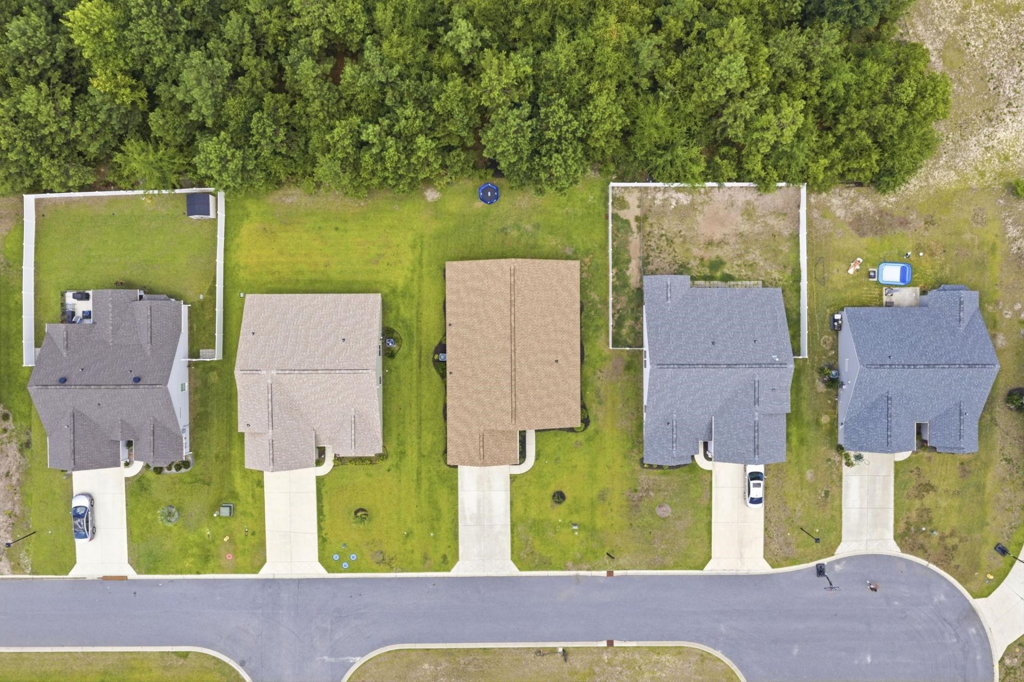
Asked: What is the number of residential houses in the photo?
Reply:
5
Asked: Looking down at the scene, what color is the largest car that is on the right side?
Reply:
white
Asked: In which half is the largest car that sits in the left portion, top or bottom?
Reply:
bottom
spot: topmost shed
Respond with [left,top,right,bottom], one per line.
[186,192,217,217]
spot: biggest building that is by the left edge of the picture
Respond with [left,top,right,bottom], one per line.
[28,290,199,472]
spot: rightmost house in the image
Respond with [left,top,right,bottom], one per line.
[833,285,1000,455]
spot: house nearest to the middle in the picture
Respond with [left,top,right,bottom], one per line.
[446,259,581,467]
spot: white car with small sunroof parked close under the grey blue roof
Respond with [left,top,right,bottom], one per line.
[743,465,767,508]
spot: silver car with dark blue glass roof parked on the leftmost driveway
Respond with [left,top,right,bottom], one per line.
[68,492,96,542]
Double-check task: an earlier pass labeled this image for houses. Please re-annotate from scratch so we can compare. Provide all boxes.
[446,259,581,467]
[235,295,384,473]
[28,290,199,472]
[833,285,1000,455]
[641,275,794,467]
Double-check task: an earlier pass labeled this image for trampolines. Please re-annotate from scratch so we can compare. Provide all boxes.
[479,181,498,204]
